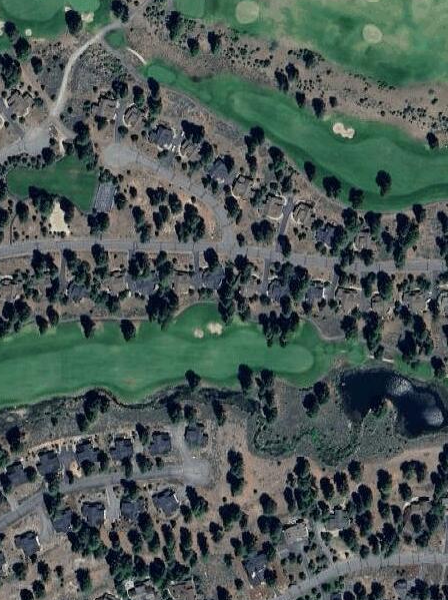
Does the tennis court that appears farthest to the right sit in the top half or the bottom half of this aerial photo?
top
